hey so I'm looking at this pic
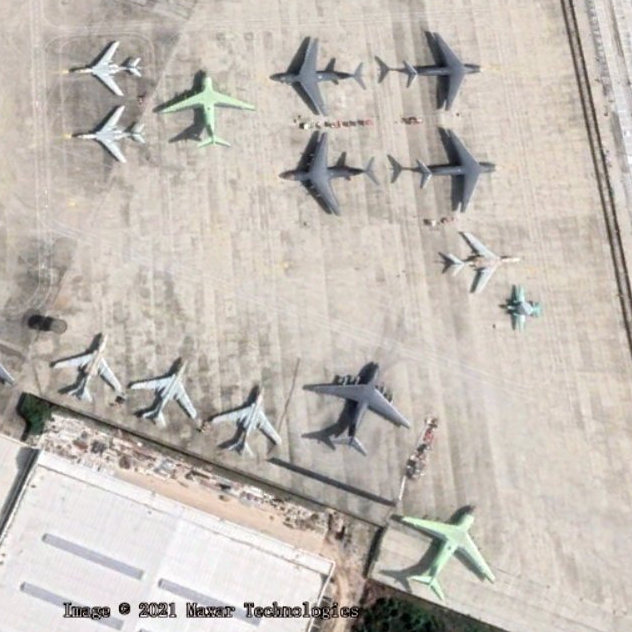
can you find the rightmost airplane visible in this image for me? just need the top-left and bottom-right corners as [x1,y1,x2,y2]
[507,287,543,332]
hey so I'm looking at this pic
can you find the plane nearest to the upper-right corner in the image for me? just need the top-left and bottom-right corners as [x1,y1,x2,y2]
[402,32,482,109]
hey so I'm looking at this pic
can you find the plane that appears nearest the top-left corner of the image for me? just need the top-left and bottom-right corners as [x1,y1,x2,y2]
[74,41,142,95]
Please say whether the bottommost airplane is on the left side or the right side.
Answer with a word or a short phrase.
right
